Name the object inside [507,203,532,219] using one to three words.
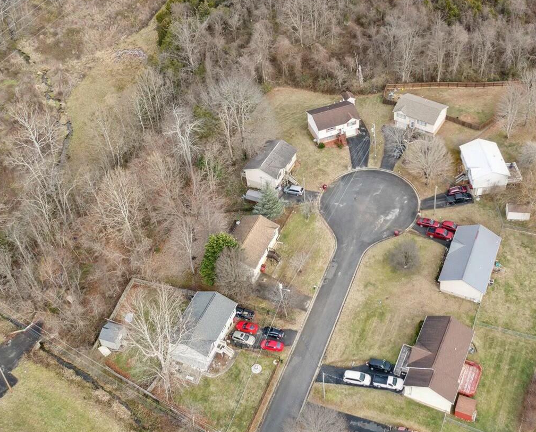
shed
